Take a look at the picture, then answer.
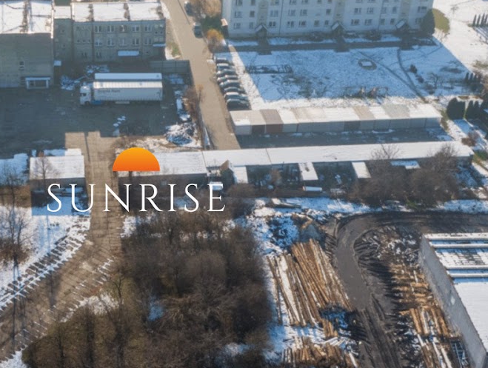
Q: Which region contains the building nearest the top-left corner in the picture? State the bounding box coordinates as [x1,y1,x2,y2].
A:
[0,0,165,90]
